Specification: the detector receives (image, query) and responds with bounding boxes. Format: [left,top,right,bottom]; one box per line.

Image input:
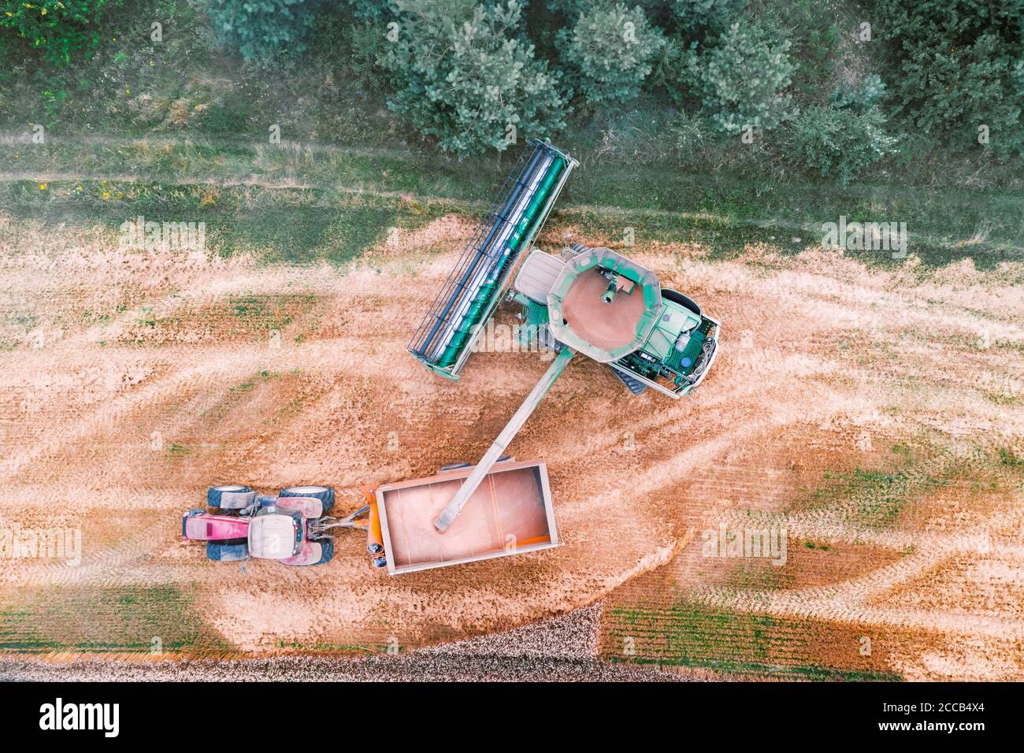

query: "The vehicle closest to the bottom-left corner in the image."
[178,485,344,571]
